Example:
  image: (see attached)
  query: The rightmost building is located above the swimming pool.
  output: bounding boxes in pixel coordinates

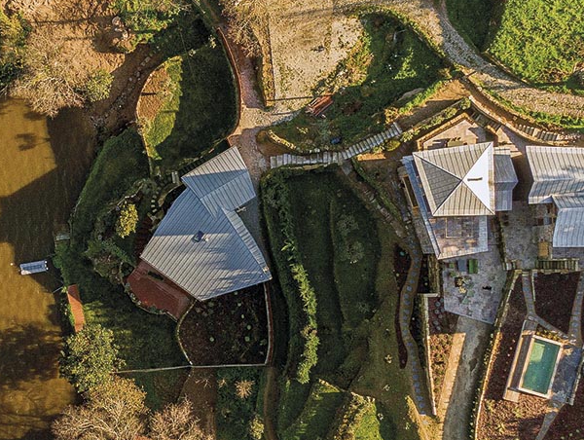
[516,146,584,247]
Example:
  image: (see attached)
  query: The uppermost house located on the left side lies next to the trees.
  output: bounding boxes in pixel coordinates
[127,146,271,323]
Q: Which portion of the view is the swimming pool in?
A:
bottom right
